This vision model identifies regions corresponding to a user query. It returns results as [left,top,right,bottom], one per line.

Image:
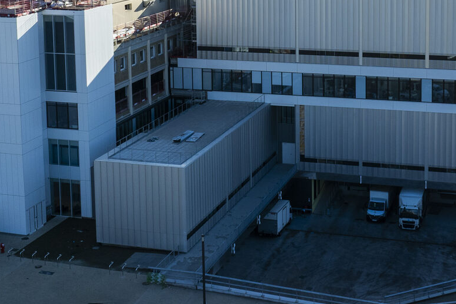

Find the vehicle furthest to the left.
[367,185,394,219]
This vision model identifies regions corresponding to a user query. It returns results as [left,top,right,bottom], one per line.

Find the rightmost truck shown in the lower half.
[395,187,427,228]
